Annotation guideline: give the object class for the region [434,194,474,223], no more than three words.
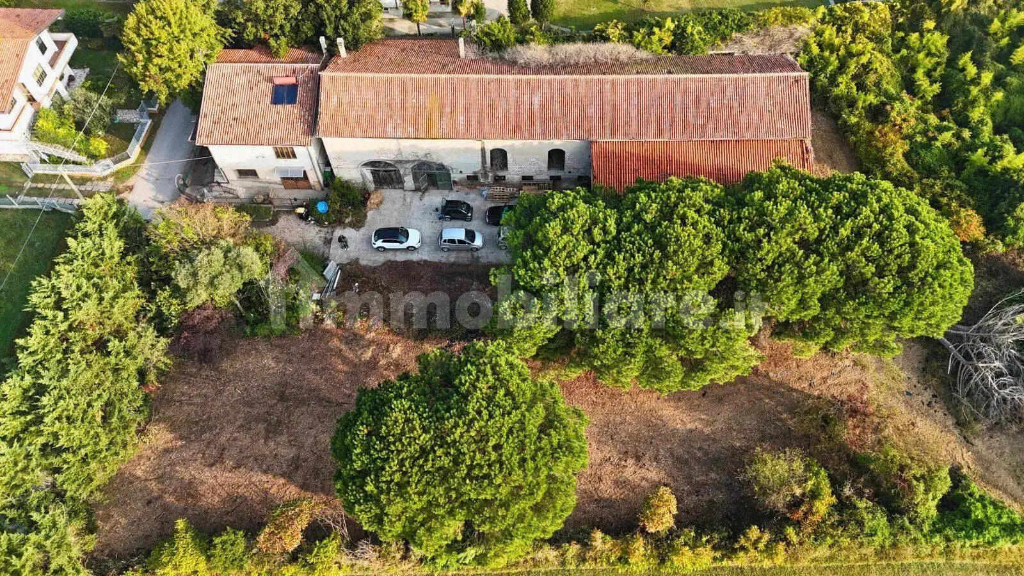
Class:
car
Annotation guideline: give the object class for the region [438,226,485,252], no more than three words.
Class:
car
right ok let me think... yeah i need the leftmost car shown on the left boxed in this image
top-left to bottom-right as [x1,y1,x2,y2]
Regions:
[371,225,422,252]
